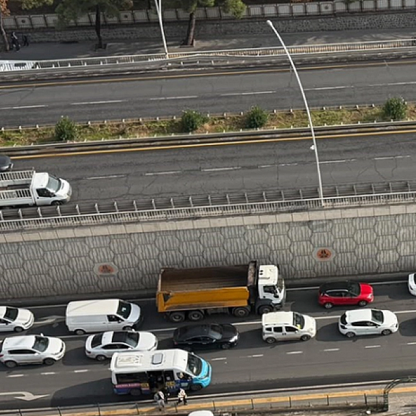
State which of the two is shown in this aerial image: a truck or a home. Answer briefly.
truck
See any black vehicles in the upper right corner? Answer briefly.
No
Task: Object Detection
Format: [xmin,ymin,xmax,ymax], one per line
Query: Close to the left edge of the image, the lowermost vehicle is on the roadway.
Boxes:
[0,336,64,369]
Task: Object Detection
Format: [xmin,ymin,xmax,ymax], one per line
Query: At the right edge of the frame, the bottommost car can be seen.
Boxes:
[339,308,399,339]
